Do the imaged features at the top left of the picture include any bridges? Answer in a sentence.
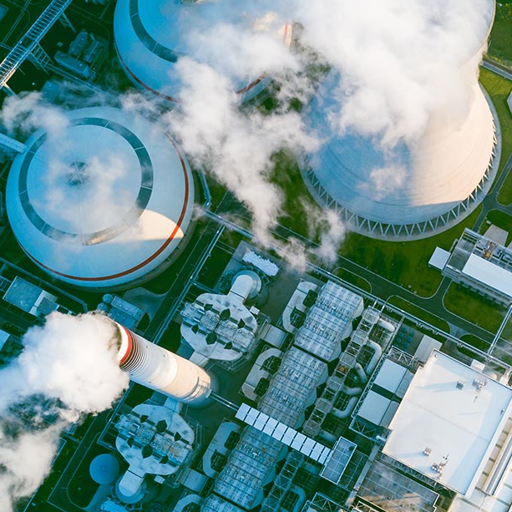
No, the scene shows no bridge at the top left of the picture.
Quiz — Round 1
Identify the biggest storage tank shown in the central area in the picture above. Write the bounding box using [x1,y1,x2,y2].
[231,259,272,300]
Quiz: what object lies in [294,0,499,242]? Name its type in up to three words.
cooling tower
